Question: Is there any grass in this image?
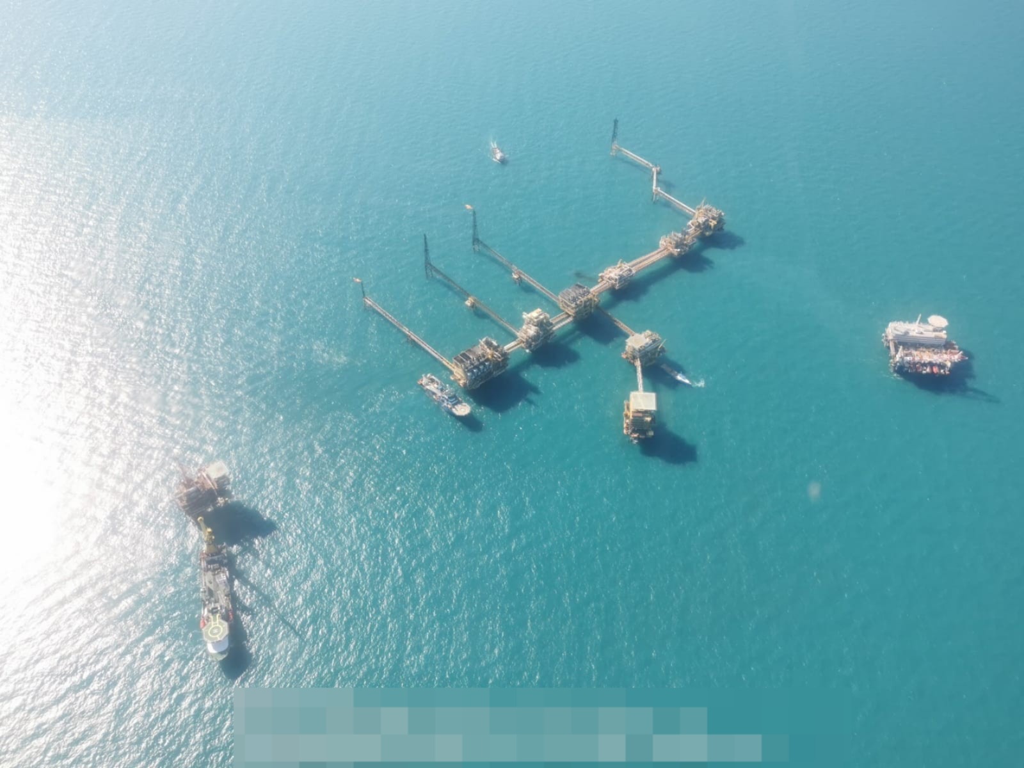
No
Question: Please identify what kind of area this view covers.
port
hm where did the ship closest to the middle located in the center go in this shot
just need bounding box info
[418,366,474,415]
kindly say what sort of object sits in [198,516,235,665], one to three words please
ship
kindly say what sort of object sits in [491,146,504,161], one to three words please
ship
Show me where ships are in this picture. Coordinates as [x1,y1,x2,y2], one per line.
[657,360,695,387]
[418,366,474,415]
[491,146,504,161]
[874,315,971,377]
[198,516,235,665]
